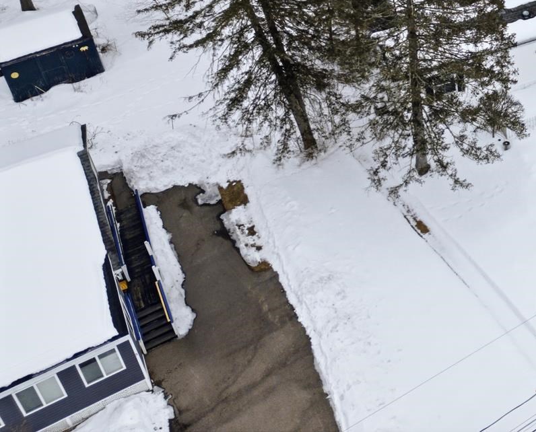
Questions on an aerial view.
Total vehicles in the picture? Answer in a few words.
0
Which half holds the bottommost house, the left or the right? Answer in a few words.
left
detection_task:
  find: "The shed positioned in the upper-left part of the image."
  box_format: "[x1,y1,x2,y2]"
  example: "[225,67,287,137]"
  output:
[0,2,102,97]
